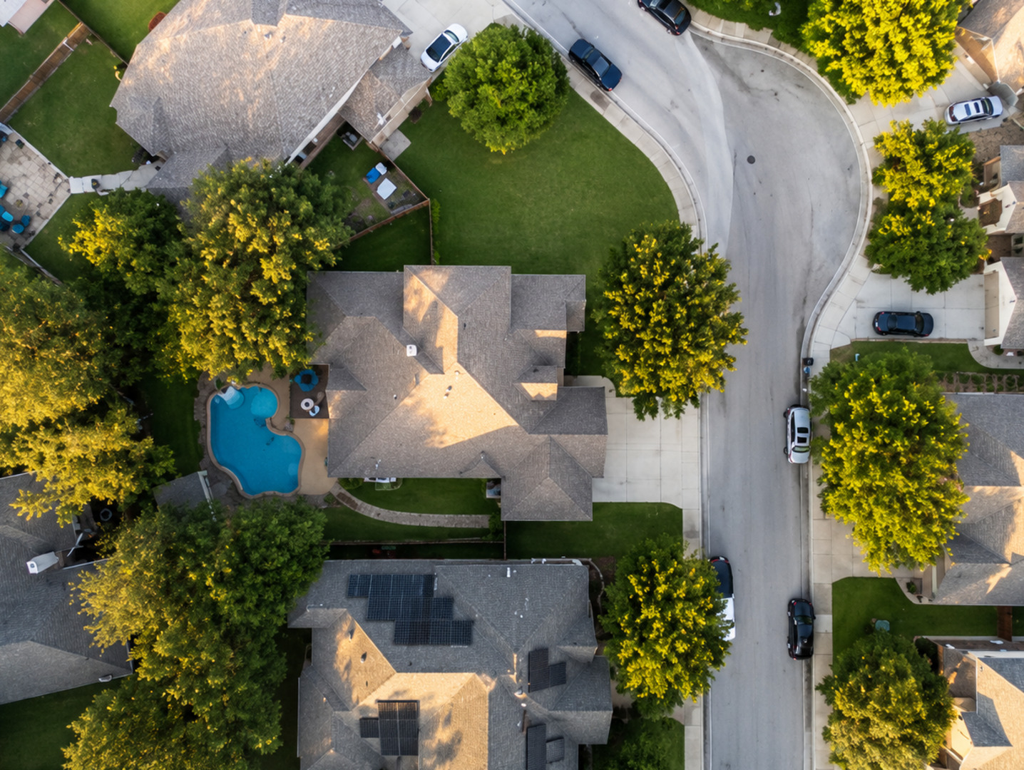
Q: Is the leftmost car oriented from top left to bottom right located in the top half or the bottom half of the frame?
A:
top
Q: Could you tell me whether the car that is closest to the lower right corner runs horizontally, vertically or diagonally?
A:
vertically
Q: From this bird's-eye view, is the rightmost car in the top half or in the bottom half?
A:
top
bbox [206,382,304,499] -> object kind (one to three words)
swimming pool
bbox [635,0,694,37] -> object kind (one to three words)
car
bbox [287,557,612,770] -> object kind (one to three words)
house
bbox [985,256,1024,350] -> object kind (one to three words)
house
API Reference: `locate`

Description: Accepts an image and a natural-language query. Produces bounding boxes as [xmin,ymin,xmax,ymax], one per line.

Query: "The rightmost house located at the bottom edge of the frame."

[942,644,1024,770]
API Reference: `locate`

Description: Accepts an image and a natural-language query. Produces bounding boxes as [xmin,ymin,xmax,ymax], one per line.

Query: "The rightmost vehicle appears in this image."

[944,93,1008,124]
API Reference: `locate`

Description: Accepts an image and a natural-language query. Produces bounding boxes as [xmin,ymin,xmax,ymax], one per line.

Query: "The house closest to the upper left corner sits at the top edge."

[110,0,432,191]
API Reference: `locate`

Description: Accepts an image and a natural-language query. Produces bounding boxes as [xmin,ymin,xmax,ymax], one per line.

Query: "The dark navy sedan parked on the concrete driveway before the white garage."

[874,309,937,338]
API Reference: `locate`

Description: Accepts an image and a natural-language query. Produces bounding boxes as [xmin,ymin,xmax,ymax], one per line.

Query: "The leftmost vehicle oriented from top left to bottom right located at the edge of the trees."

[566,35,626,89]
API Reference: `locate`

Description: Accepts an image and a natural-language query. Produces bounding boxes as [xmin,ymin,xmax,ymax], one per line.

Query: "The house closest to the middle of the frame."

[306,264,608,522]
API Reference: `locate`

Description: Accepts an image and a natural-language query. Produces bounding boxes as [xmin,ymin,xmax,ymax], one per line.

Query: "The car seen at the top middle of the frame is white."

[417,15,470,74]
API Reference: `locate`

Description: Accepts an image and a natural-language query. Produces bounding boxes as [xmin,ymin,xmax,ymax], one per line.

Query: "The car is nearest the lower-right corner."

[789,599,821,663]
